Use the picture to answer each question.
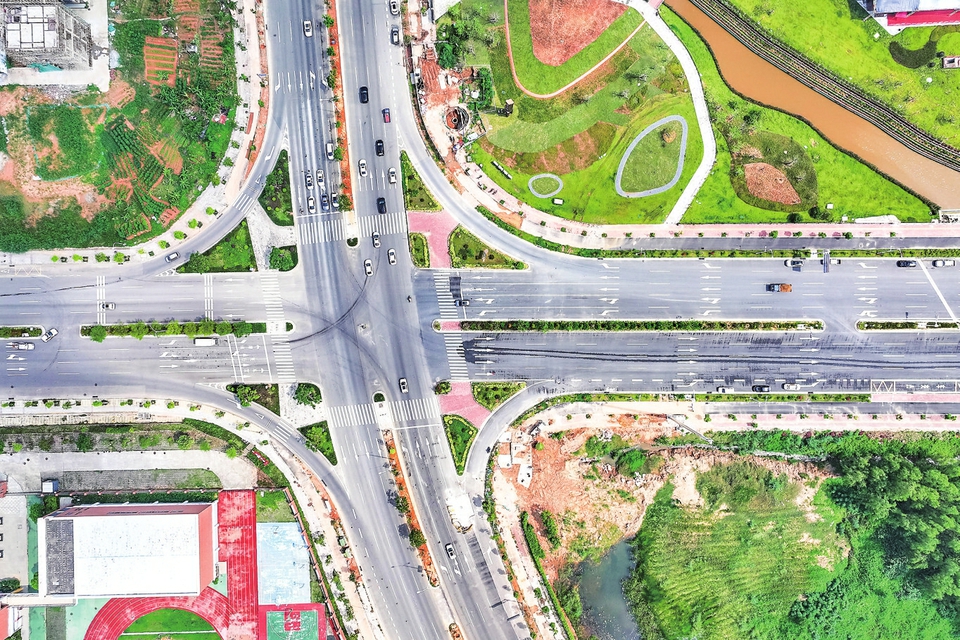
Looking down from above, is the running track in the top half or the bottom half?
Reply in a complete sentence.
The running track is in the bottom half of the image.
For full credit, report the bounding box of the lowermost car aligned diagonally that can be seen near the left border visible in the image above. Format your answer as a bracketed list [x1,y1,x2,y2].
[42,328,59,341]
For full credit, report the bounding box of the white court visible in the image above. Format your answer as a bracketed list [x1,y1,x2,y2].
[258,522,311,604]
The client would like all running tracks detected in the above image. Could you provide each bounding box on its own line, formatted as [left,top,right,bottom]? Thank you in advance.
[83,491,259,640]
